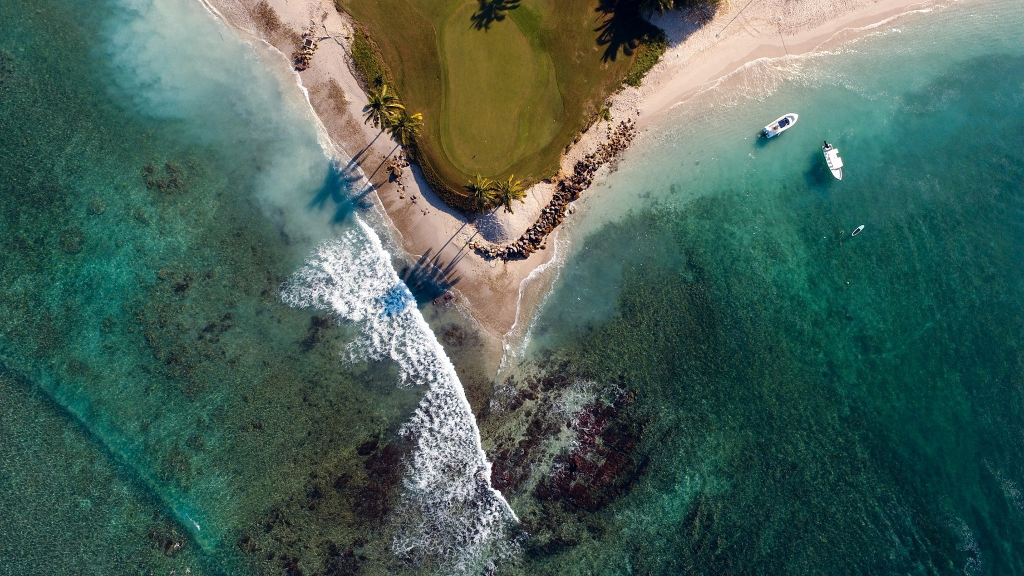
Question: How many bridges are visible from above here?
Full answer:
There are no bridges in the image.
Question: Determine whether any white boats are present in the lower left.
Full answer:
No, I see no white boat in the lower left.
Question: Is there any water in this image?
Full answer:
Yes, some water is visible.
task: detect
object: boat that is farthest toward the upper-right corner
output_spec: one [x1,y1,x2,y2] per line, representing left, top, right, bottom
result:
[821,141,846,180]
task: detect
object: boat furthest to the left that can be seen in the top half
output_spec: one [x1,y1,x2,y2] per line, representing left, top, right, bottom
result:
[762,113,800,139]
